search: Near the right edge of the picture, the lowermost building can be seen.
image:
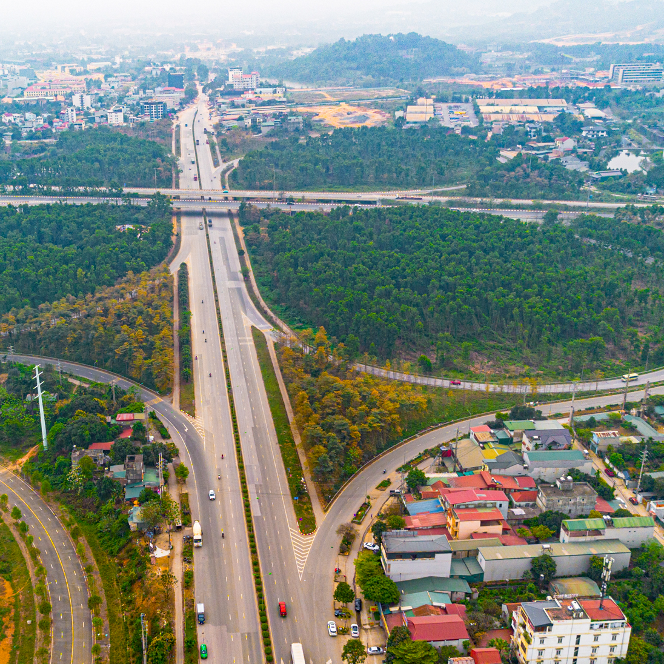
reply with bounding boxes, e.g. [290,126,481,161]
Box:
[510,592,632,664]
